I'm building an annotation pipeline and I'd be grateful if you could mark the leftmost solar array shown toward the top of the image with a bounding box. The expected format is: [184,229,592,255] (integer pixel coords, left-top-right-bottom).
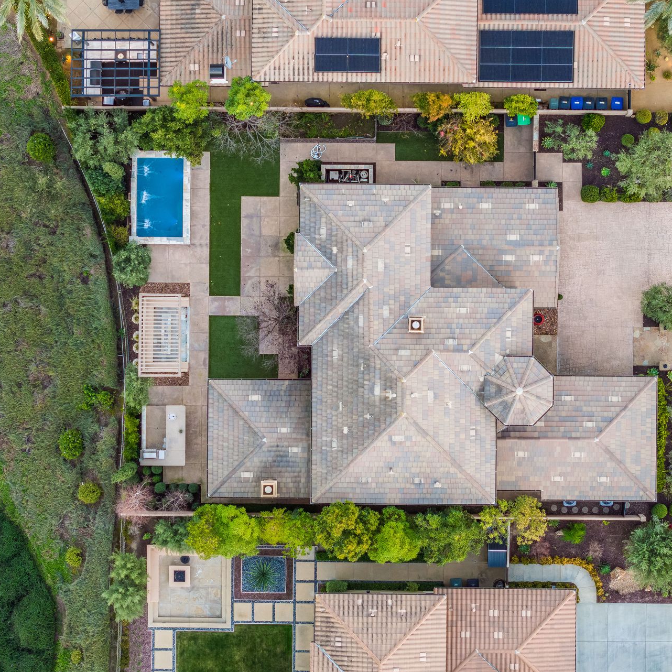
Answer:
[315,38,381,72]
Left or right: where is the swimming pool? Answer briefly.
left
